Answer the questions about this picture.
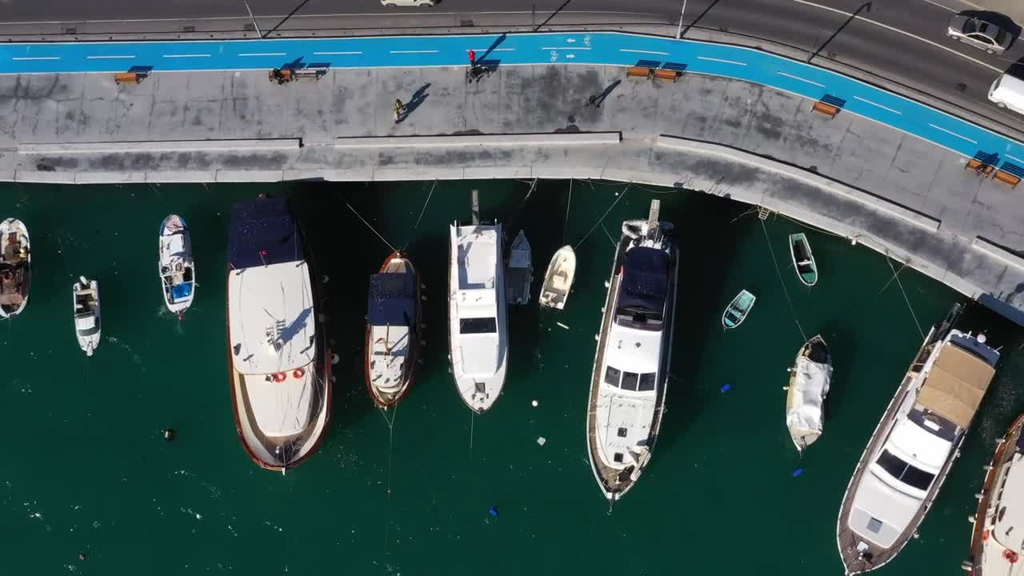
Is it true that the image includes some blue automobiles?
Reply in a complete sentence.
No, no blue automobile is visible in the scene.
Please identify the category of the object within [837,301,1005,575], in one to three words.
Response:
boat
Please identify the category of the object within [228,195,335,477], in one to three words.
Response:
boat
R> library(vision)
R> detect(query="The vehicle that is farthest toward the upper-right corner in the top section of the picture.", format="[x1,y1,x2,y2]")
[948,14,1013,51]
